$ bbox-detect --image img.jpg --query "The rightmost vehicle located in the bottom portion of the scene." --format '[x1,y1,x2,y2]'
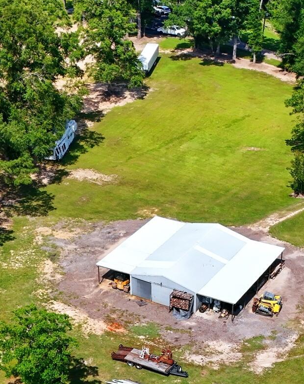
[251,288,284,312]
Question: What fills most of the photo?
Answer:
grass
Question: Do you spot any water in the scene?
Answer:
No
